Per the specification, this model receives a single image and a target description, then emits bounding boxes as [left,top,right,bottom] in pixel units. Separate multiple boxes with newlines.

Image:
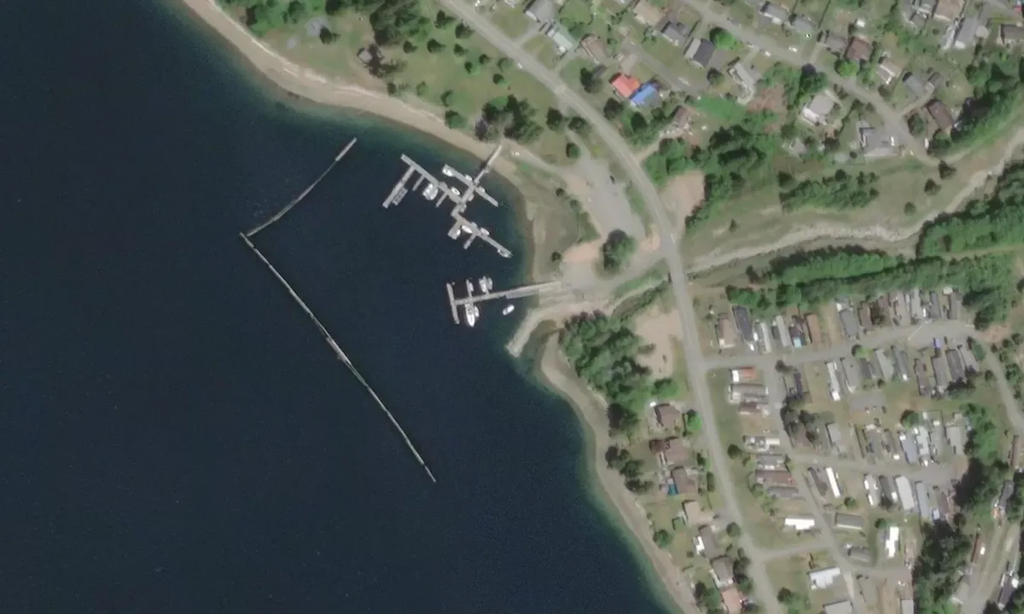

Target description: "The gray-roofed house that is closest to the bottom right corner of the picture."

[996,572,1019,609]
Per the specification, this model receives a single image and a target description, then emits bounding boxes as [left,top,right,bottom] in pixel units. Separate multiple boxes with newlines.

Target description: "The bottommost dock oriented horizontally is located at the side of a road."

[446,277,561,324]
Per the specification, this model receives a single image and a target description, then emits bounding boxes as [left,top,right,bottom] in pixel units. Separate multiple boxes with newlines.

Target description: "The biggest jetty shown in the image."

[383,144,512,256]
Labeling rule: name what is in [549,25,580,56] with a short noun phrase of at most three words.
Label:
house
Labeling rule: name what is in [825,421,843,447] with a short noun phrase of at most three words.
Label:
house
